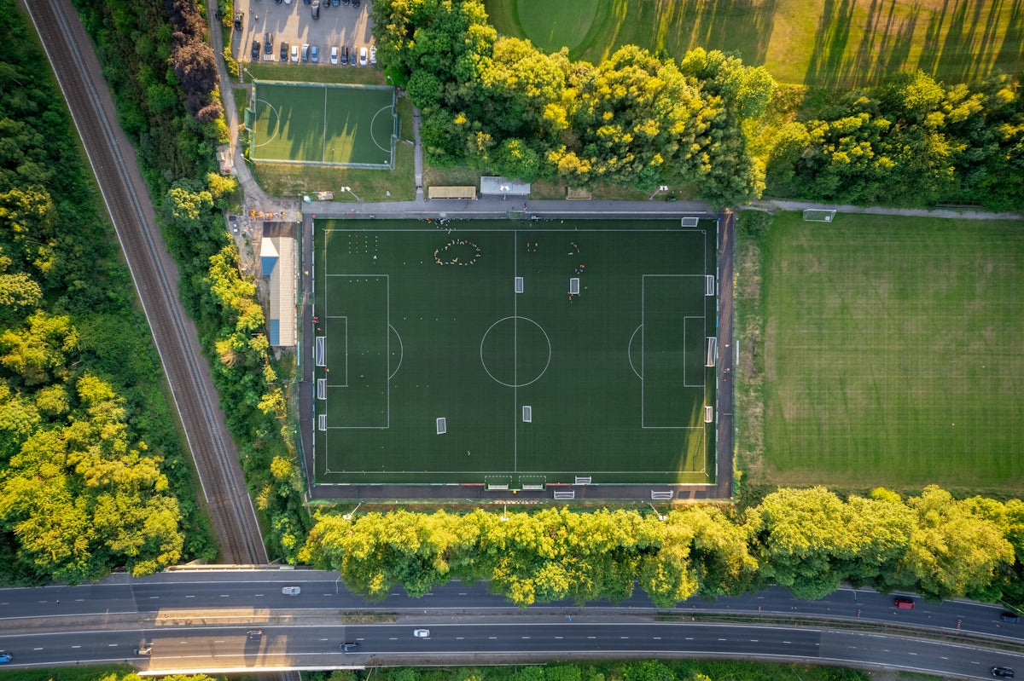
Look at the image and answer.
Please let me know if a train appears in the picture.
No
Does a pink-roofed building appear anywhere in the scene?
No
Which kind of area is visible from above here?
sports ground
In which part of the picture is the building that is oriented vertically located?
left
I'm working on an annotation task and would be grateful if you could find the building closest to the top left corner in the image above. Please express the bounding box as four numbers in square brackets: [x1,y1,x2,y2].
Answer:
[258,237,298,346]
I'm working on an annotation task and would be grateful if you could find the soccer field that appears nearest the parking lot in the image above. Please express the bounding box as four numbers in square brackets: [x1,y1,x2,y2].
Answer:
[314,212,717,492]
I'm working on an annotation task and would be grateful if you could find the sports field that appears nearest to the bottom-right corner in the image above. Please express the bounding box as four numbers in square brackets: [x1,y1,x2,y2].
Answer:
[762,210,1024,491]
